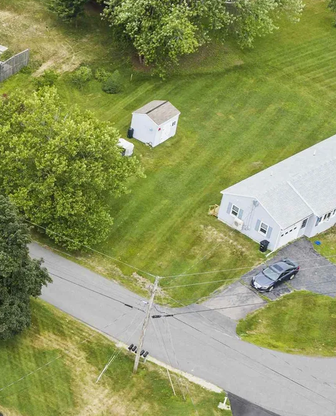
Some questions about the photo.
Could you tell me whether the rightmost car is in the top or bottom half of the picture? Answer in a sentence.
The rightmost car sits in the bottom half of the picture.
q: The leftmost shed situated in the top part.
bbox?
[123,100,176,141]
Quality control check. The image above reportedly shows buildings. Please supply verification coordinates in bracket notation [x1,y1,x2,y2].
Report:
[203,136,336,257]
[123,100,176,141]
